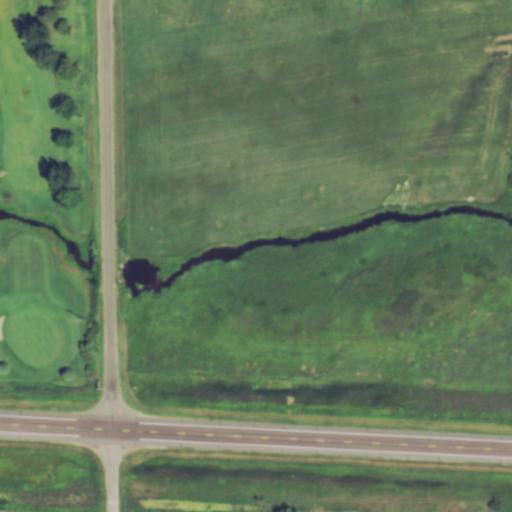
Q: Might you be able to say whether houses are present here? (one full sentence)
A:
No, there's no house here.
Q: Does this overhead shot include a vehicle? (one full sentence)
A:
No, the photo shows no vehicle.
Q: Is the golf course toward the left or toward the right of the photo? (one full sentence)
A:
The golf course sits on the left side.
